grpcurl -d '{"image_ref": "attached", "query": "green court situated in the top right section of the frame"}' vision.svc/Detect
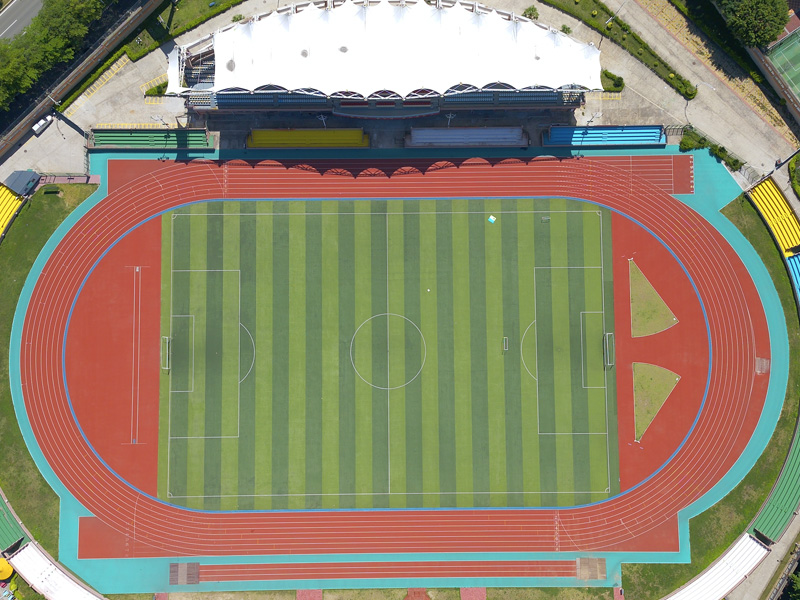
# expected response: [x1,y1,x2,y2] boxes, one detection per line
[762,28,800,102]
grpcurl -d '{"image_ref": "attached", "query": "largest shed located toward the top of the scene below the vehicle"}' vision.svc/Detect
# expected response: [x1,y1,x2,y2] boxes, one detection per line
[4,170,48,198]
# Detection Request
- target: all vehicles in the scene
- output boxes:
[30,113,52,134]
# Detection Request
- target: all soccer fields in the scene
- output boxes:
[156,198,620,510]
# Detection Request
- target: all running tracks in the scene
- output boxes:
[9,146,789,593]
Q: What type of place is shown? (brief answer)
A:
sports ground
